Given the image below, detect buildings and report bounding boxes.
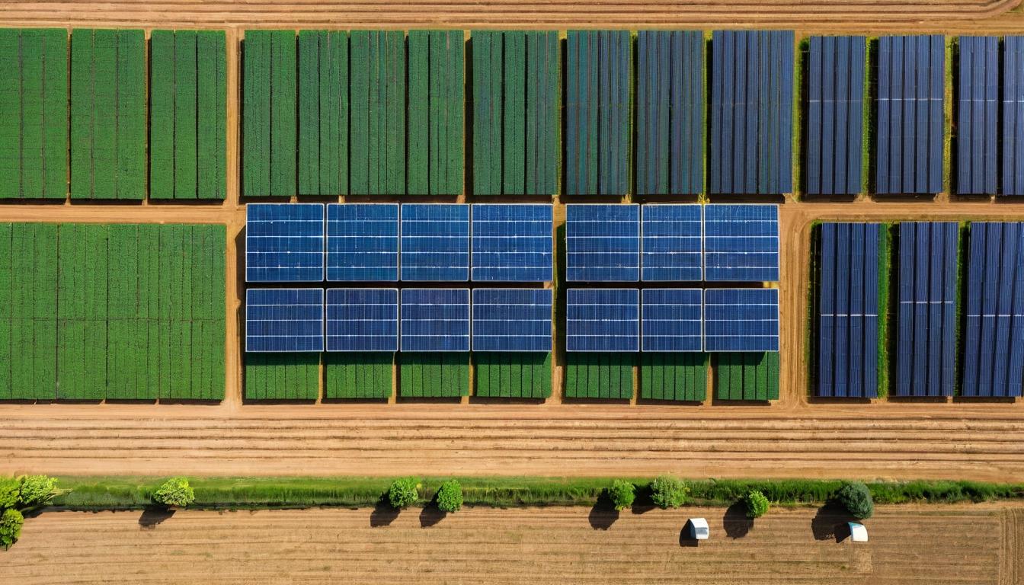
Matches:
[847,521,867,542]
[690,517,707,540]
